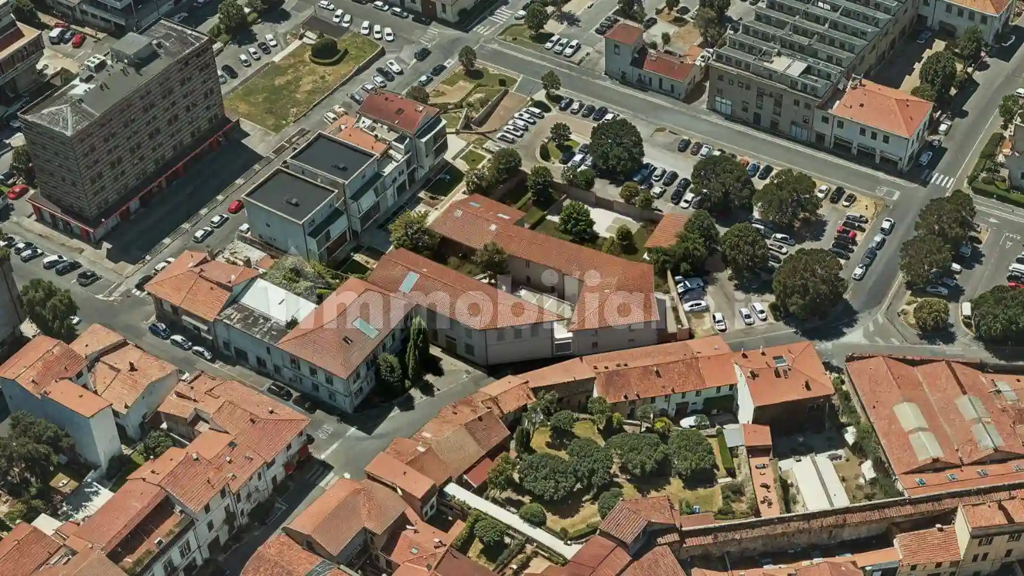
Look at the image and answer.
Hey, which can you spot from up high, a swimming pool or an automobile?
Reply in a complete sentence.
Looking from above, you can make out an automobile.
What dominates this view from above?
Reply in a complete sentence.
What you mostly see from above here is buildings.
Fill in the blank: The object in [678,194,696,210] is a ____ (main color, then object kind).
white car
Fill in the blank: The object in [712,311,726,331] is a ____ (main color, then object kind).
white car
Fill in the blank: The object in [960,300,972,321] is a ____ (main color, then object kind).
white vehicle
